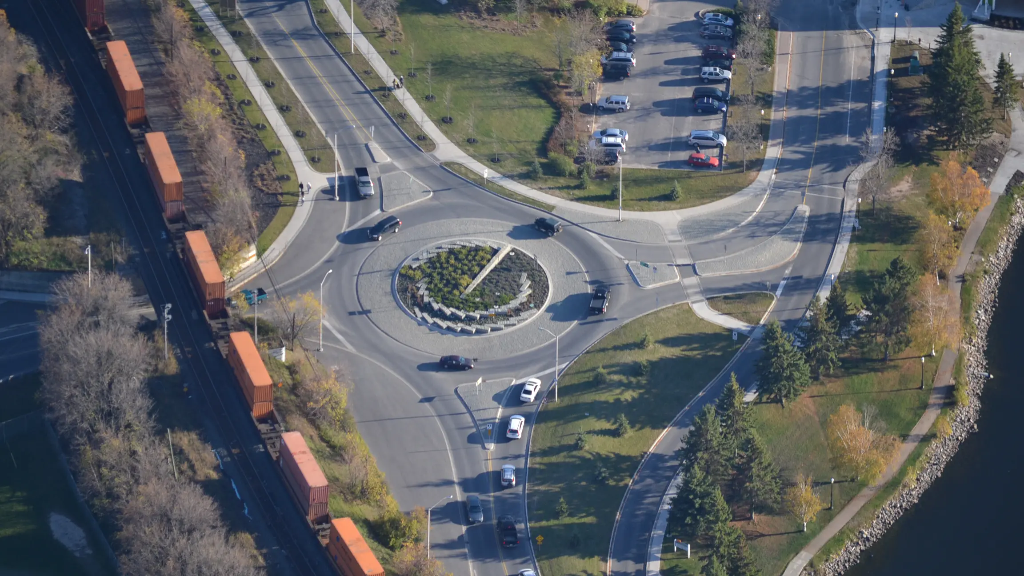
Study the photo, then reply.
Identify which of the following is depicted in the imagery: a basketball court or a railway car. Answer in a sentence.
This aerial view contains a railway car.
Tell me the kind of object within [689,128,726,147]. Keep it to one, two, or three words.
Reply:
car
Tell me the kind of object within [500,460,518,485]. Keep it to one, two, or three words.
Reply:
car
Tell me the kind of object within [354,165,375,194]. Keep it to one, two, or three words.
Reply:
truck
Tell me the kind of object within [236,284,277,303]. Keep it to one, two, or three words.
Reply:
vehicle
